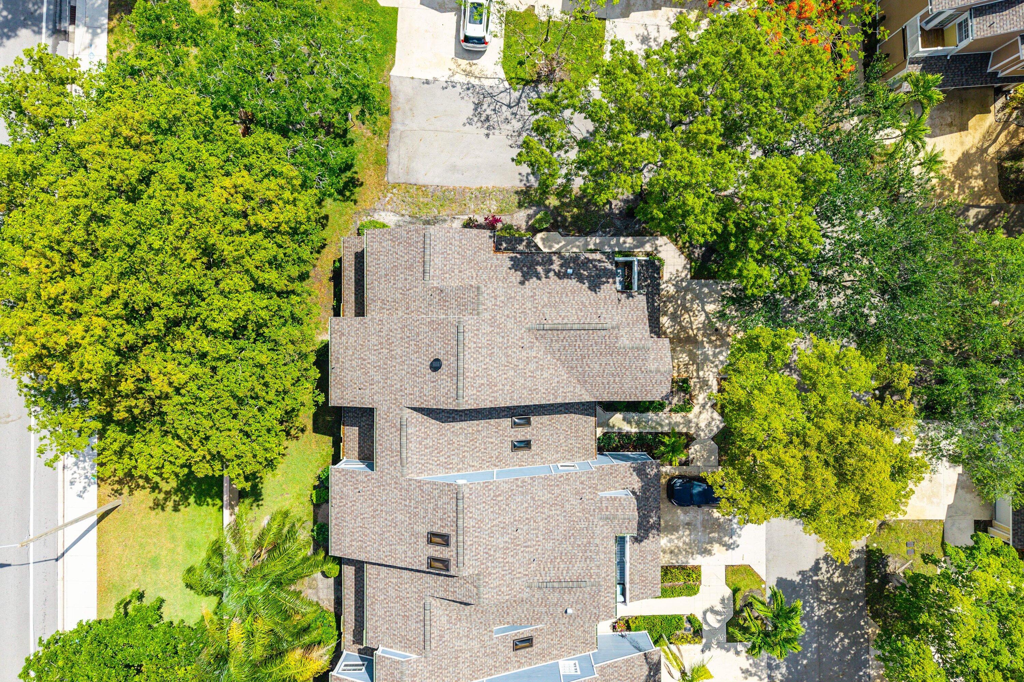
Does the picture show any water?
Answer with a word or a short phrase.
No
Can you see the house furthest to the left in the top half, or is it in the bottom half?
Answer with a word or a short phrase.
bottom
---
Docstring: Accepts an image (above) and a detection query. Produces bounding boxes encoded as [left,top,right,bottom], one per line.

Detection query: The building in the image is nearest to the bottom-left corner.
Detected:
[328,225,672,682]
